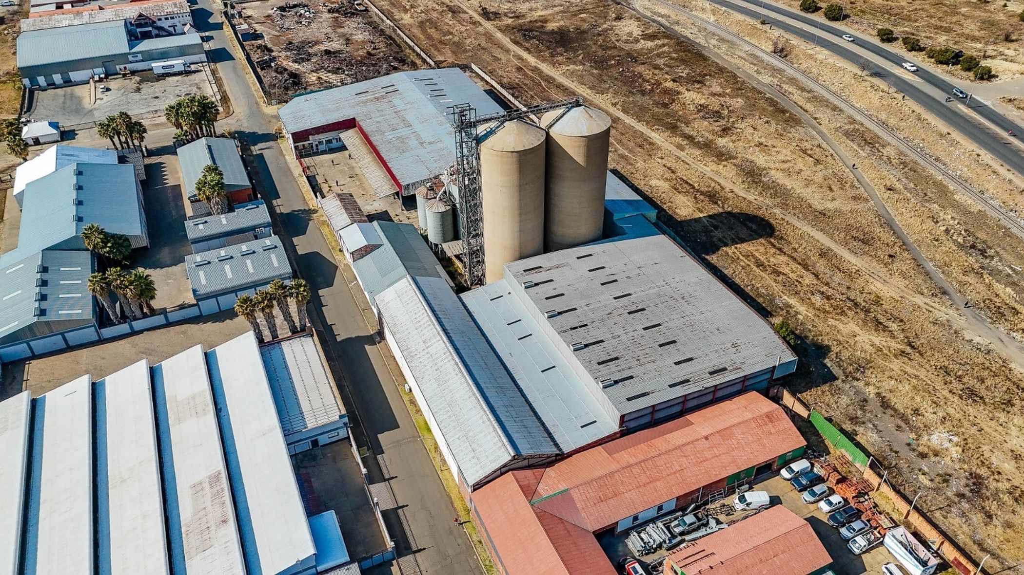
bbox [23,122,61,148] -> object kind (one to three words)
building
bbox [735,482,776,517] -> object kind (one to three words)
vehicle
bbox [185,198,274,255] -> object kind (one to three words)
building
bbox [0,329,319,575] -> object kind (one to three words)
warehouse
